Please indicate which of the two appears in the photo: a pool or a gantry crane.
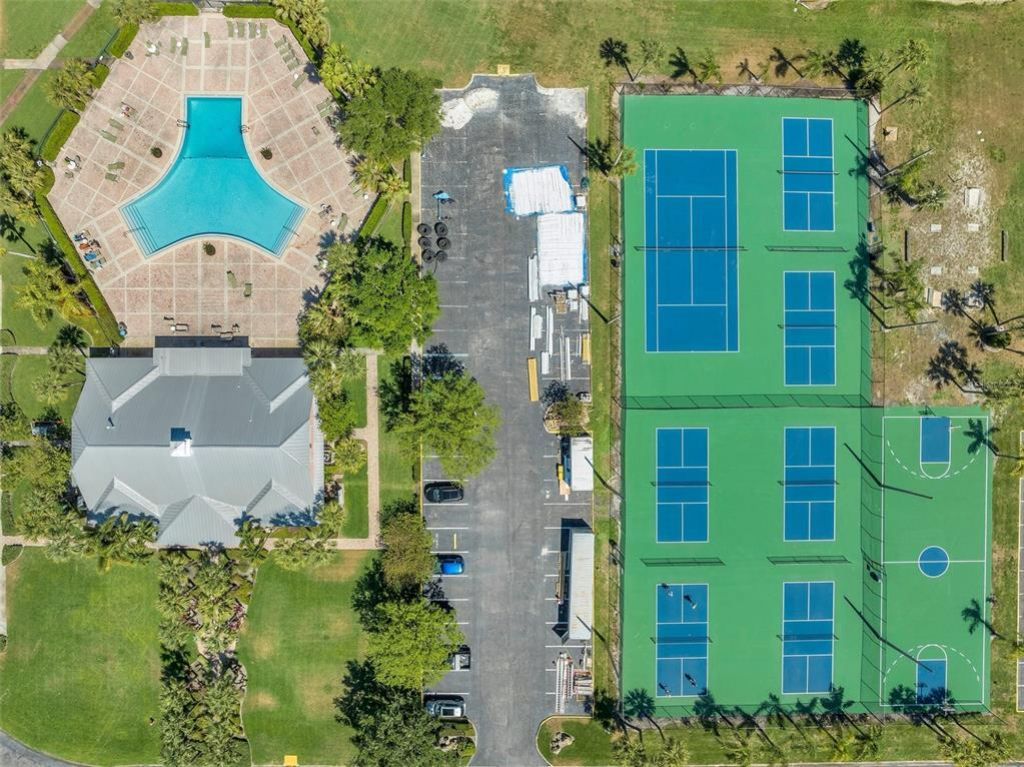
pool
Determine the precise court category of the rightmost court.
basketball court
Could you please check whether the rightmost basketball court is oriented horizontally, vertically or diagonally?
vertically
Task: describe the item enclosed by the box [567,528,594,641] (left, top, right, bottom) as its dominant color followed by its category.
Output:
white trailer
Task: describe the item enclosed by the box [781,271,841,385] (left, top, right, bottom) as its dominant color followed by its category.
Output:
blue sports court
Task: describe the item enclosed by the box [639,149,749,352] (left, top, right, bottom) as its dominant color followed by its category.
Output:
blue tennis court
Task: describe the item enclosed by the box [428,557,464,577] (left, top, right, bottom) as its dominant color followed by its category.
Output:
blue car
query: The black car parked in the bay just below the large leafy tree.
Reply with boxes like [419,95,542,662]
[423,484,463,503]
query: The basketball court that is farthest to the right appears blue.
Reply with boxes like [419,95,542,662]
[880,417,988,705]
